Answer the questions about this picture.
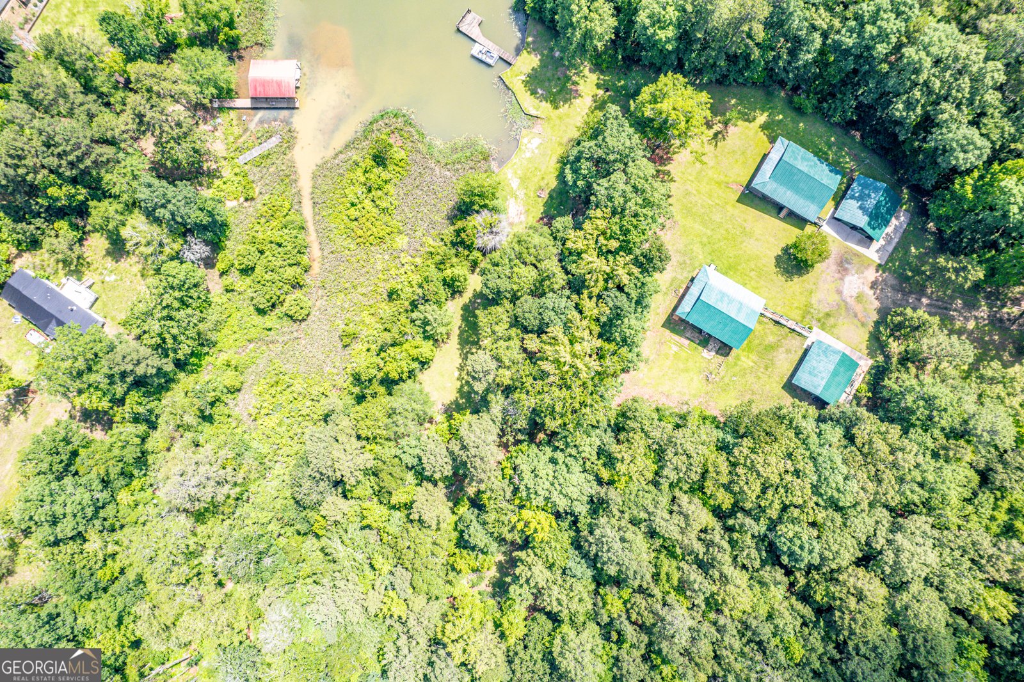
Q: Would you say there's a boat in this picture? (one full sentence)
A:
Yes, a boat can be made out from above.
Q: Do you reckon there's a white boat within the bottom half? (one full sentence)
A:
No, there's no white boat to be seen within the bottom half.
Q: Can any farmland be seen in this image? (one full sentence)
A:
No, there is no farmland in the image.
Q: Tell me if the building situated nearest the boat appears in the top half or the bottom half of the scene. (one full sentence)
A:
It is in the top half that the building situated nearest the boat appears.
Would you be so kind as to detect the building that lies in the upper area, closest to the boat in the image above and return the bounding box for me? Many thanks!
[247,59,304,106]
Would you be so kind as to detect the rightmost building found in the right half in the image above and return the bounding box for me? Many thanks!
[830,175,902,242]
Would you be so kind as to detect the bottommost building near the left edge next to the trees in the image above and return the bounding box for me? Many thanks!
[2,268,105,345]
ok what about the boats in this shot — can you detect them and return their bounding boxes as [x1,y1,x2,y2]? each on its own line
[471,42,499,67]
